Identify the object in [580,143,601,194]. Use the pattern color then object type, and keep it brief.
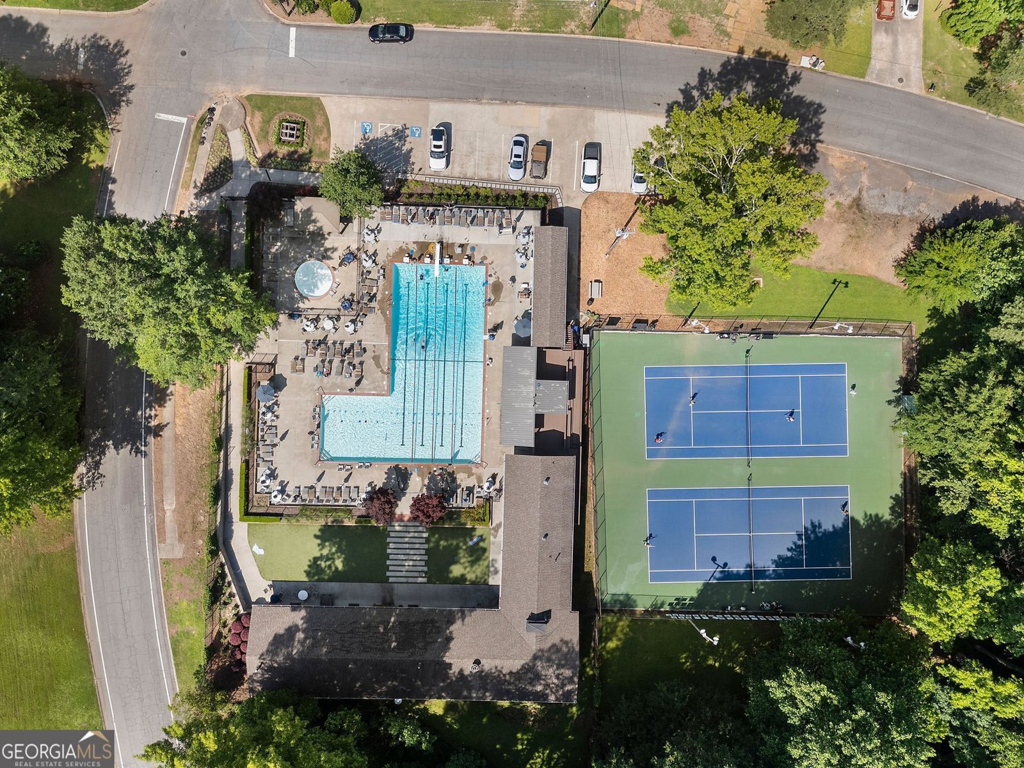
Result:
white truck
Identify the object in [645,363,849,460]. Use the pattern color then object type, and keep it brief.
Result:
blue tennis court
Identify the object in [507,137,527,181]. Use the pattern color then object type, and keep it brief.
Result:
white car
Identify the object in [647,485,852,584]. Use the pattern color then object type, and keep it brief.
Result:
blue tennis court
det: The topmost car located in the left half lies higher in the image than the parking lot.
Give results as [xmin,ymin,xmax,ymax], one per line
[369,22,411,44]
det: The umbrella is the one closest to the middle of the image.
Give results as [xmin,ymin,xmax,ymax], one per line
[513,319,531,338]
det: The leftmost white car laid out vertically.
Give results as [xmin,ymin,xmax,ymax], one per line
[427,127,447,171]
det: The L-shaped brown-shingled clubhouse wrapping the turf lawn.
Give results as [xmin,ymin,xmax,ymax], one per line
[244,455,581,704]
